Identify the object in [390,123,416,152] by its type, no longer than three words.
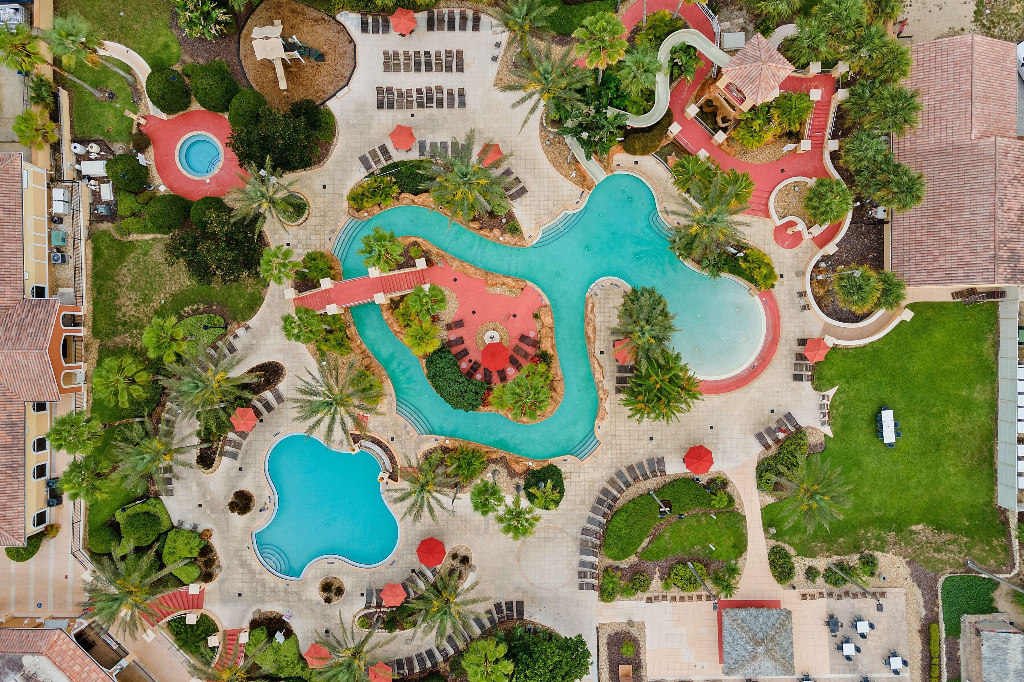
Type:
umbrella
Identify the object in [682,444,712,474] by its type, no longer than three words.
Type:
umbrella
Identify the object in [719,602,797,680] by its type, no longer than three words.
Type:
shed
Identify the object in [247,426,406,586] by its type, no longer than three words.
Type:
swimming pool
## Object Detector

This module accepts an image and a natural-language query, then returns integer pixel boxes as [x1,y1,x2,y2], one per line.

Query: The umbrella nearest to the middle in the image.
[481,342,510,371]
